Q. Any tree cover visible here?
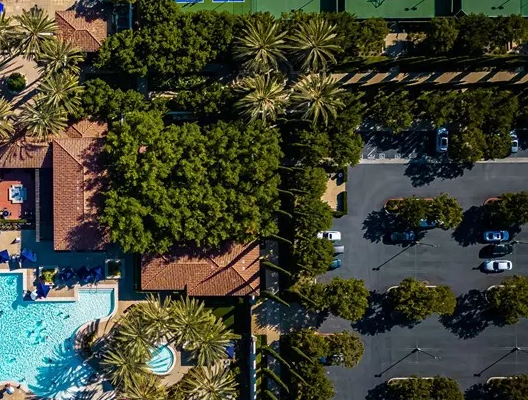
Yes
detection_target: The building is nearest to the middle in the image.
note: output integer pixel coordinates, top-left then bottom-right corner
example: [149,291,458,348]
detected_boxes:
[141,239,260,297]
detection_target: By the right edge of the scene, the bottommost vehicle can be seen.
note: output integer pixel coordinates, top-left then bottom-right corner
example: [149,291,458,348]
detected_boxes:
[486,259,514,273]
